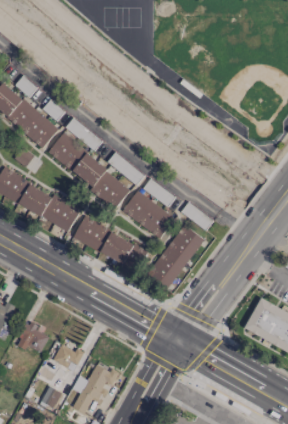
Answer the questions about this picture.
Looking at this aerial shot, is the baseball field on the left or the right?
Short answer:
right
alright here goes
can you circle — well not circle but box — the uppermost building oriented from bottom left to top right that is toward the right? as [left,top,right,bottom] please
[150,226,205,287]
